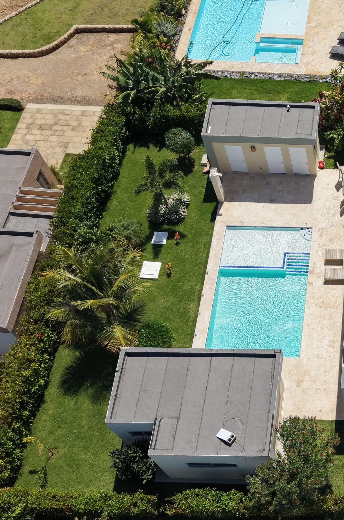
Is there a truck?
No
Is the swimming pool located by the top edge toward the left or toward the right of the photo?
right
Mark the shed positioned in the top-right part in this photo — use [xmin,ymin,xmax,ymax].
[201,99,331,173]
